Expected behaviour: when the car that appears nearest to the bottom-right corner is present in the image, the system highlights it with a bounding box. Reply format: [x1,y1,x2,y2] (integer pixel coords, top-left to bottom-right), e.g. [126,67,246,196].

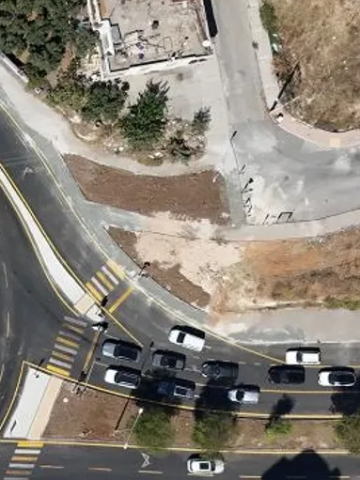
[317,369,355,387]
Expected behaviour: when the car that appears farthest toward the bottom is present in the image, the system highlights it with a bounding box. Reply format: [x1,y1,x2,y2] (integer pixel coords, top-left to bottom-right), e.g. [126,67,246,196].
[185,457,224,475]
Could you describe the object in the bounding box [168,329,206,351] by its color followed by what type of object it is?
white car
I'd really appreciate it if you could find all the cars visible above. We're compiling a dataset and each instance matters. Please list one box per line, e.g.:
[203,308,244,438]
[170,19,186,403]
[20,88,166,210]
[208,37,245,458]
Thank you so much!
[266,366,305,385]
[317,369,355,387]
[103,367,143,390]
[157,379,197,399]
[102,342,141,361]
[185,457,224,475]
[149,351,188,370]
[225,385,263,403]
[168,329,206,351]
[283,347,321,366]
[201,361,239,380]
